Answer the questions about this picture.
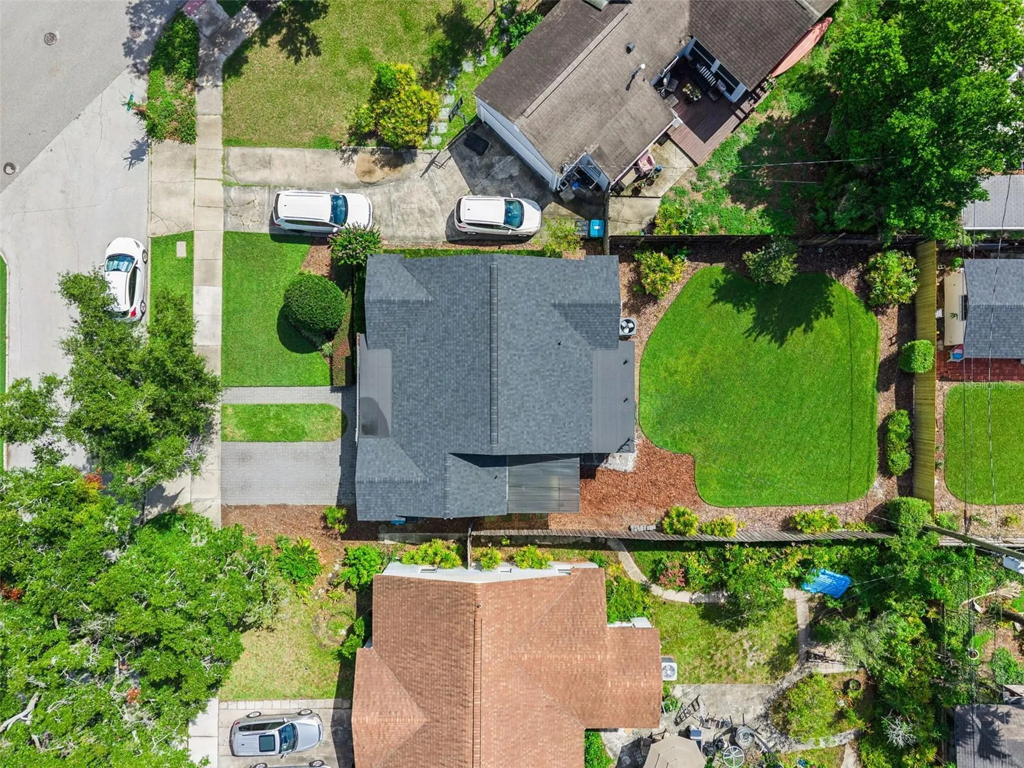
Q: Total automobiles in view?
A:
four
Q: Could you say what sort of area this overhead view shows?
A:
residential area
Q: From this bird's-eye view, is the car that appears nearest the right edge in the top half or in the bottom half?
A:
top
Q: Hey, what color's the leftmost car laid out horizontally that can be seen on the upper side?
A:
white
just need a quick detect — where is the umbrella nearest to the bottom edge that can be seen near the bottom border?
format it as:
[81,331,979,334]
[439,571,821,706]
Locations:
[641,732,707,768]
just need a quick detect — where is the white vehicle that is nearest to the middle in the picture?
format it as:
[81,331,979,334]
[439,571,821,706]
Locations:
[454,191,541,237]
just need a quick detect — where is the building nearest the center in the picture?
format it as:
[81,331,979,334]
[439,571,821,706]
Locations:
[352,255,635,521]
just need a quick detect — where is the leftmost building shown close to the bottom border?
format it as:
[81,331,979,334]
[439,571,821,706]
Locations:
[347,563,664,768]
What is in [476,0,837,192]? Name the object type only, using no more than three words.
house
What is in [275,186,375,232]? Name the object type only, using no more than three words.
car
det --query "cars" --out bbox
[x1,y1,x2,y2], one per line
[230,712,324,763]
[275,186,375,232]
[454,191,541,237]
[98,238,148,322]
